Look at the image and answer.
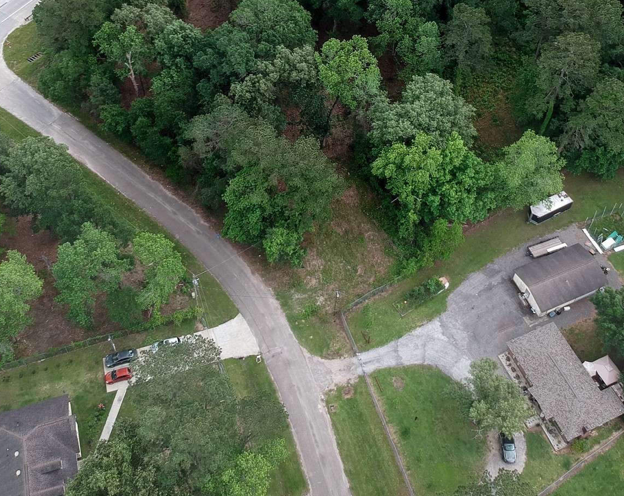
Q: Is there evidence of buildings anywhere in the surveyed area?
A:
Yes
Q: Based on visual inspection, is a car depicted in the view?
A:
Yes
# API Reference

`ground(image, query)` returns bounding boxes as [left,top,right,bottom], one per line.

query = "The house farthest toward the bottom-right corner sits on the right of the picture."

[506,322,624,447]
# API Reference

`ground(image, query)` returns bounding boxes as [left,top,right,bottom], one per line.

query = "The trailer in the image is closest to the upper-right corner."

[522,191,573,222]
